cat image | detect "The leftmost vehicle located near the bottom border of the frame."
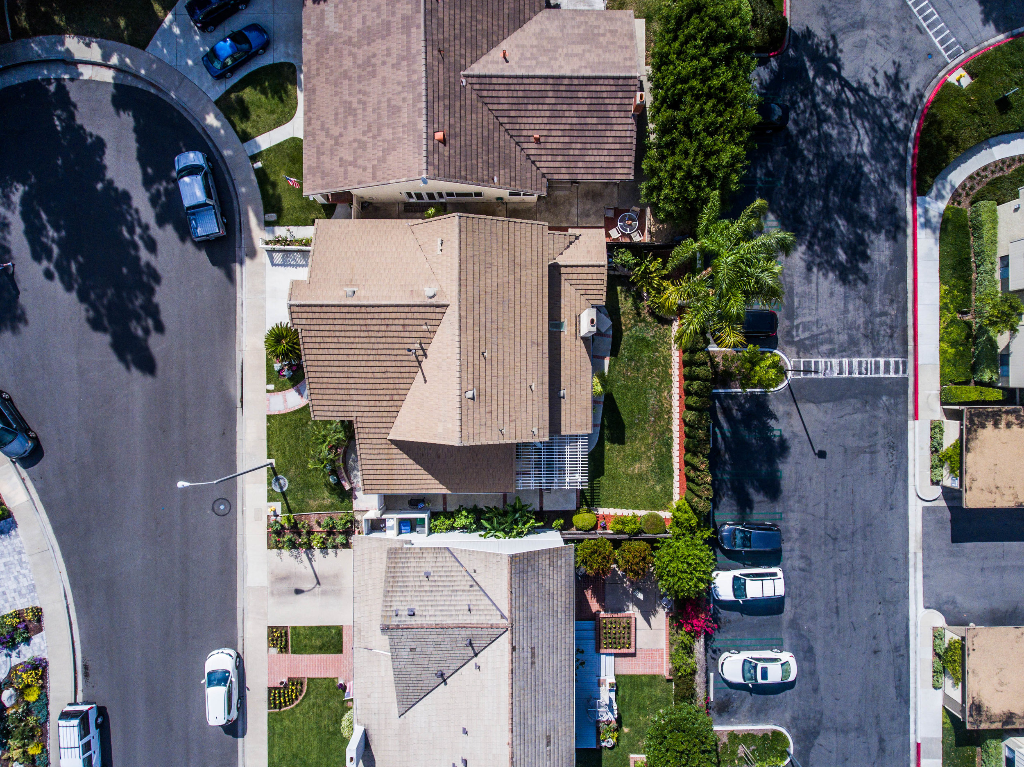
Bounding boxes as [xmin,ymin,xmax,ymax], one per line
[56,698,107,767]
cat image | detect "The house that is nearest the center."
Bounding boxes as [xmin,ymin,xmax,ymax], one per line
[286,211,609,497]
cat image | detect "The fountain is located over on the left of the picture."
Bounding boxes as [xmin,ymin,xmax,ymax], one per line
[271,476,288,493]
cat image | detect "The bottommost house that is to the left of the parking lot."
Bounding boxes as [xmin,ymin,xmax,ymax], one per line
[346,530,576,767]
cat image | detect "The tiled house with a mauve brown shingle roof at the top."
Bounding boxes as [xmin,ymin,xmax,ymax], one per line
[303,0,646,203]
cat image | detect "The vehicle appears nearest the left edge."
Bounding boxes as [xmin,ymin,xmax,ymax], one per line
[0,383,41,460]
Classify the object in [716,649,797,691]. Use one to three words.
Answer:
car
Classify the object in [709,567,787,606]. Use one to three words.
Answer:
car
